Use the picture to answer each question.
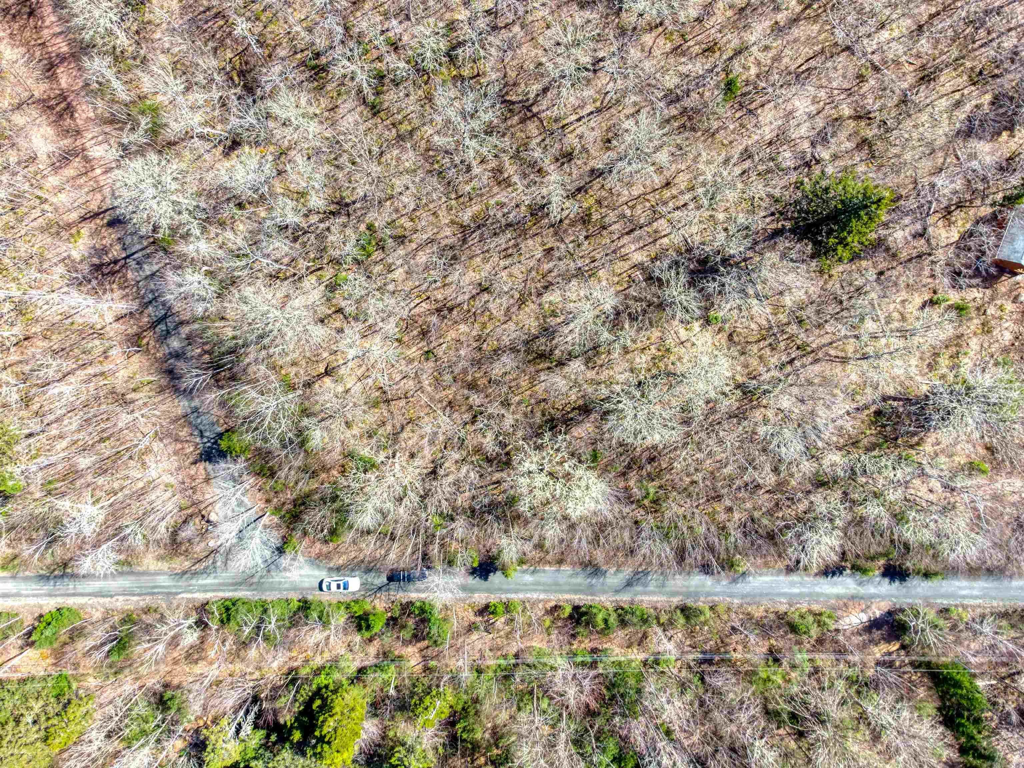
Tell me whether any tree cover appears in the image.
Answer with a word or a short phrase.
Yes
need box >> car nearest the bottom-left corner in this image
[320,576,359,593]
